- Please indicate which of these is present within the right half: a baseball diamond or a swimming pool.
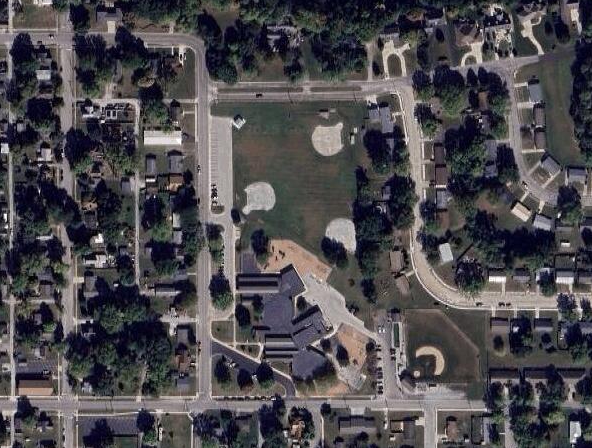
baseball diamond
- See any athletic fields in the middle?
Yes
